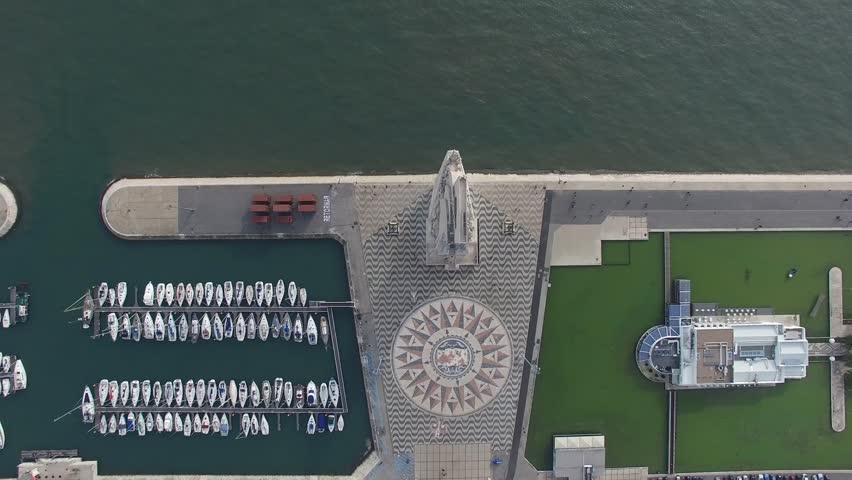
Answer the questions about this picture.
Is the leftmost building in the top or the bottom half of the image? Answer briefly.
bottom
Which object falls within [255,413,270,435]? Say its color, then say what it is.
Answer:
white boat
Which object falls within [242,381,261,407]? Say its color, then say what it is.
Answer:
white boat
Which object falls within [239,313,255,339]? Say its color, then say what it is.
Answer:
gray boat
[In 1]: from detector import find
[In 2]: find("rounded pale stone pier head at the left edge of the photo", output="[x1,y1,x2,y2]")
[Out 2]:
[0,181,22,237]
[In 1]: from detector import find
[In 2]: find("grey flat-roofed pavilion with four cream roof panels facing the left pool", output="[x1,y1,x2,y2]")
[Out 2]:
[551,435,607,480]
